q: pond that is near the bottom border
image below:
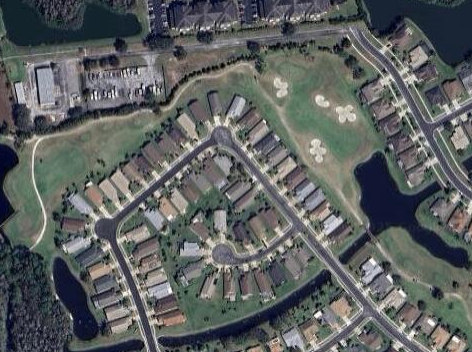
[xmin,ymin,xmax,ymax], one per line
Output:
[52,257,99,339]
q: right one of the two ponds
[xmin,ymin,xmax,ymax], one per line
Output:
[356,152,468,268]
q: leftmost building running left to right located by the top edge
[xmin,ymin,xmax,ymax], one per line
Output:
[171,0,238,31]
